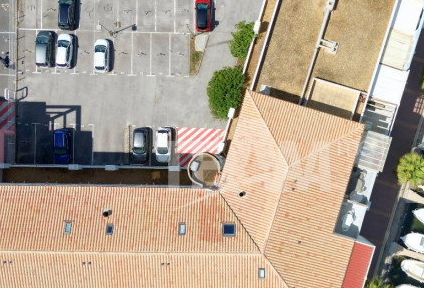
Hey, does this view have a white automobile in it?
Yes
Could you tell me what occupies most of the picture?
buildings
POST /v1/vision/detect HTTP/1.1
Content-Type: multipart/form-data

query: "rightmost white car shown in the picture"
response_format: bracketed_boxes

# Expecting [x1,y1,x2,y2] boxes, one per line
[154,127,172,164]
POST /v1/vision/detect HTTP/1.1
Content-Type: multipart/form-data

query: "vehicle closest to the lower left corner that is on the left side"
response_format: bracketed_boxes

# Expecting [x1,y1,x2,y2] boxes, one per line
[53,130,74,164]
